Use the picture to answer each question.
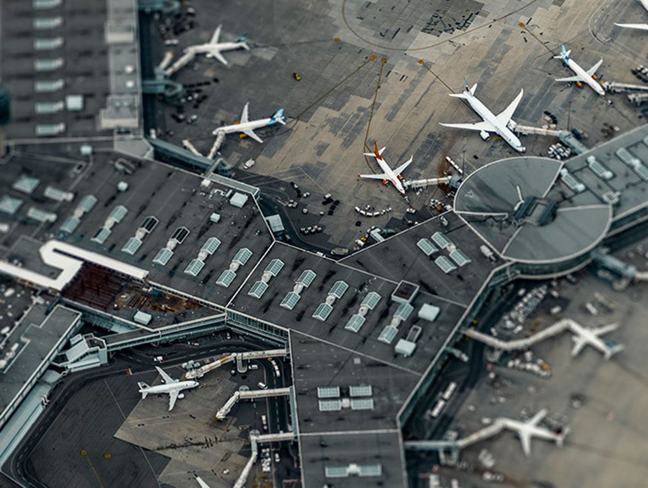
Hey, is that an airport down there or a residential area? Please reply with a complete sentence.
The area seen from above is an airport.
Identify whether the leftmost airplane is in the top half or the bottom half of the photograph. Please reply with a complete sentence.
It is in the bottom half that the leftmost airplane appears.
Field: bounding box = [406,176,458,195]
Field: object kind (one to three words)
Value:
jet bridge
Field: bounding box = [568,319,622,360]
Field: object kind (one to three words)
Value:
airplane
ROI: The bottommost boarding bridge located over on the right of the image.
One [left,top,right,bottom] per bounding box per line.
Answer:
[403,416,506,453]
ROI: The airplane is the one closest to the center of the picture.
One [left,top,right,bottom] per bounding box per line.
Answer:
[360,145,412,195]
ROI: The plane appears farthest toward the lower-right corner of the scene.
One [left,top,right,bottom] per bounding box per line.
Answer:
[505,408,567,454]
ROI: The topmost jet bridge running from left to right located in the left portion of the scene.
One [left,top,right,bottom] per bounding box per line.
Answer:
[181,350,288,381]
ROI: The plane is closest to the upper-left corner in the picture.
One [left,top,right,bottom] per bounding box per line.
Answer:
[187,25,246,64]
